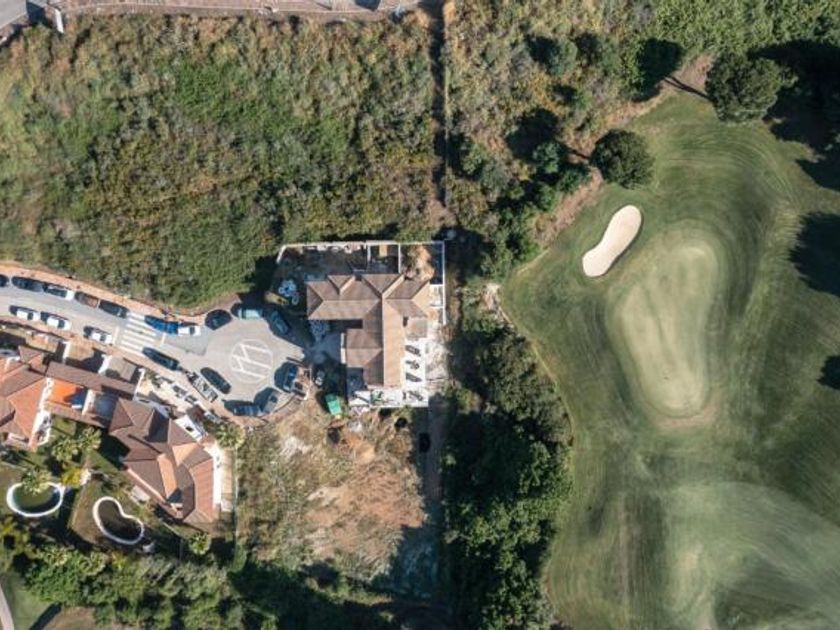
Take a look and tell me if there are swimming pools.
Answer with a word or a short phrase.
Yes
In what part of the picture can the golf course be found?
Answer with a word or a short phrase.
right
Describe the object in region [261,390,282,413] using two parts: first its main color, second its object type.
gray car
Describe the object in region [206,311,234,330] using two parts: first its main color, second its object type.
black car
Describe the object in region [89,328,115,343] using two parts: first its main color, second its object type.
white car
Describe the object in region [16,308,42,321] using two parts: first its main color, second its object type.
white vehicle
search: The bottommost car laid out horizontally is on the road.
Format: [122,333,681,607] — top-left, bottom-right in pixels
[232,402,260,416]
